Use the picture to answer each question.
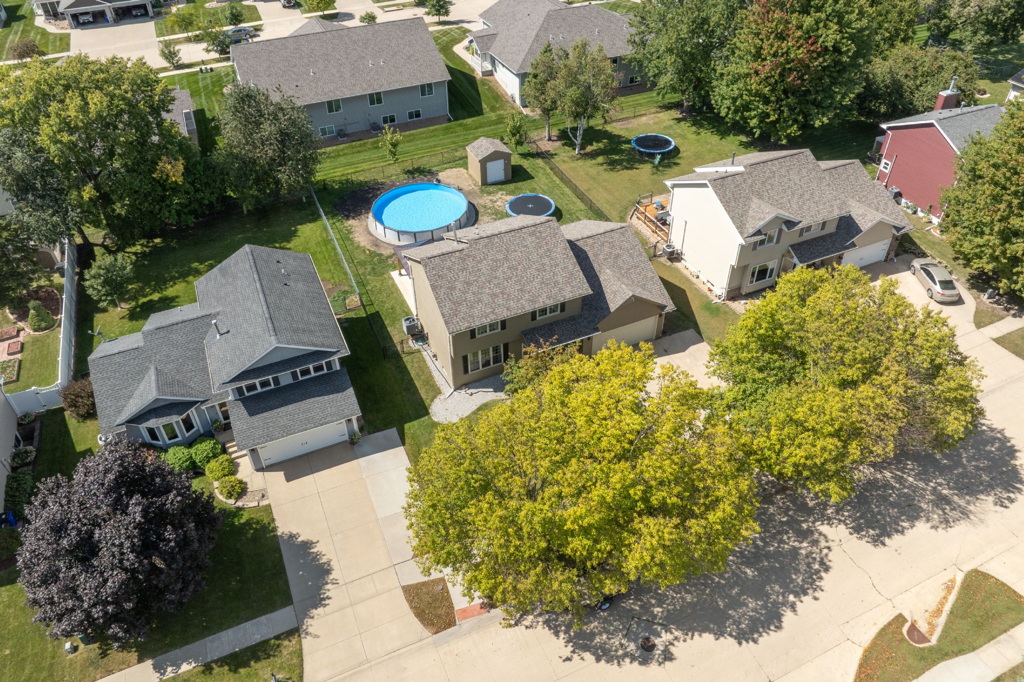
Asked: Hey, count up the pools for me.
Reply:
1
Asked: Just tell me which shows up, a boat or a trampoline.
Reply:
trampoline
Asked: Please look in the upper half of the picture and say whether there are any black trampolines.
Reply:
Yes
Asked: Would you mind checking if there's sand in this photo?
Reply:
No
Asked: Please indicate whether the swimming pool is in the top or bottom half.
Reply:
top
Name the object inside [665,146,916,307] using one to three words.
house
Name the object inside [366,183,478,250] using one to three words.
swimming pool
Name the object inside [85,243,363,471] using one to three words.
house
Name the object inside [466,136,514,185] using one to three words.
shed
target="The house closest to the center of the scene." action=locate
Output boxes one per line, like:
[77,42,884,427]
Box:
[397,214,678,403]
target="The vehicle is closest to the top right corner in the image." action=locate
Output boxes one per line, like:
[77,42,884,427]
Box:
[910,257,963,303]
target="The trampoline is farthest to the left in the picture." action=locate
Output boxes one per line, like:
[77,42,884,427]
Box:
[506,193,555,218]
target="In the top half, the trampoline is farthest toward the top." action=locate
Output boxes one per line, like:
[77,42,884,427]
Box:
[631,133,675,162]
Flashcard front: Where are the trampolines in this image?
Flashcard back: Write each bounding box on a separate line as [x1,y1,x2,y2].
[506,193,555,218]
[631,133,675,162]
